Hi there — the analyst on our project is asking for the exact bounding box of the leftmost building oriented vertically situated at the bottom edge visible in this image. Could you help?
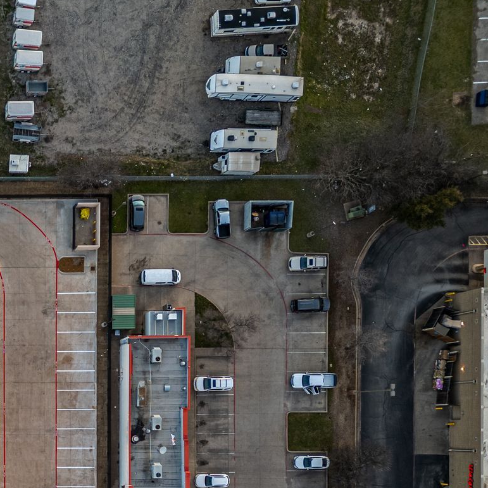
[118,304,190,488]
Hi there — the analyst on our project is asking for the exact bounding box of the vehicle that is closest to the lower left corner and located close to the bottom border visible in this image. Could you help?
[194,473,230,488]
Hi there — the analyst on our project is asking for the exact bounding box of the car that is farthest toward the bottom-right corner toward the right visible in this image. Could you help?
[292,454,330,470]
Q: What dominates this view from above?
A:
paved ground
